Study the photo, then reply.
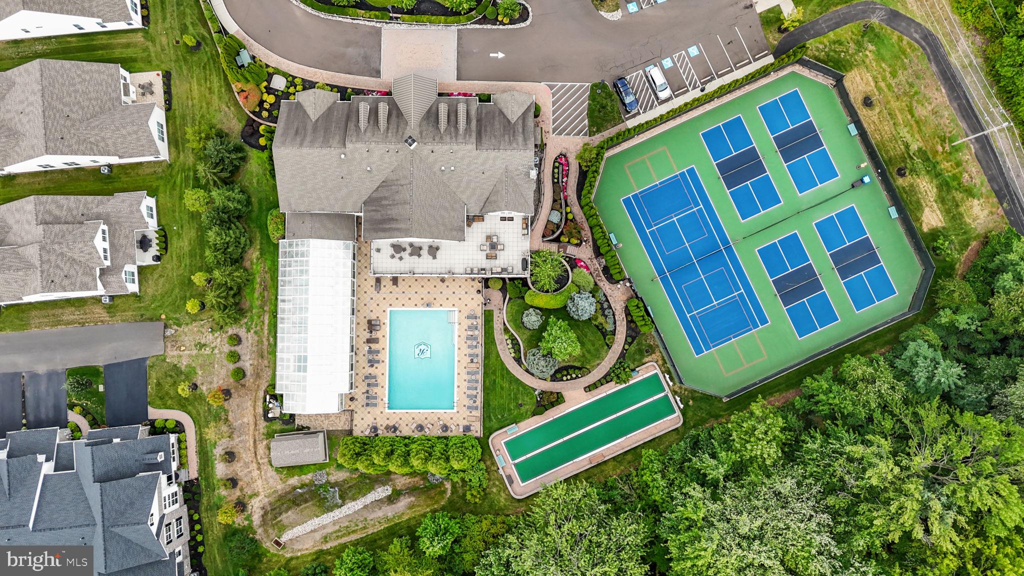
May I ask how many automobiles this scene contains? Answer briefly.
two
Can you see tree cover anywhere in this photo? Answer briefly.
Yes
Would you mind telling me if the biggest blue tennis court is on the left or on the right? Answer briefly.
right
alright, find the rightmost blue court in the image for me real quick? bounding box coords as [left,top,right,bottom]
[813,204,898,313]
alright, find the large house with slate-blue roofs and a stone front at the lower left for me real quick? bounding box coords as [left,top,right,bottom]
[0,425,195,576]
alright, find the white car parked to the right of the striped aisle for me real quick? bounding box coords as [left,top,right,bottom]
[647,65,670,100]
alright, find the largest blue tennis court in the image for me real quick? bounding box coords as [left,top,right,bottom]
[621,145,771,378]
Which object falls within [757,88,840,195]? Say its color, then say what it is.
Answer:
blue sports court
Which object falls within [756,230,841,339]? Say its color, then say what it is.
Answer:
blue sports court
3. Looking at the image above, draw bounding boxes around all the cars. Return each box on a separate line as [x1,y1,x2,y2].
[615,78,638,113]
[647,65,670,100]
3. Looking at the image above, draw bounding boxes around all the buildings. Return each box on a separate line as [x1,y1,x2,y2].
[271,429,330,467]
[272,73,541,245]
[0,0,144,36]
[0,191,159,304]
[0,425,195,576]
[0,59,170,174]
